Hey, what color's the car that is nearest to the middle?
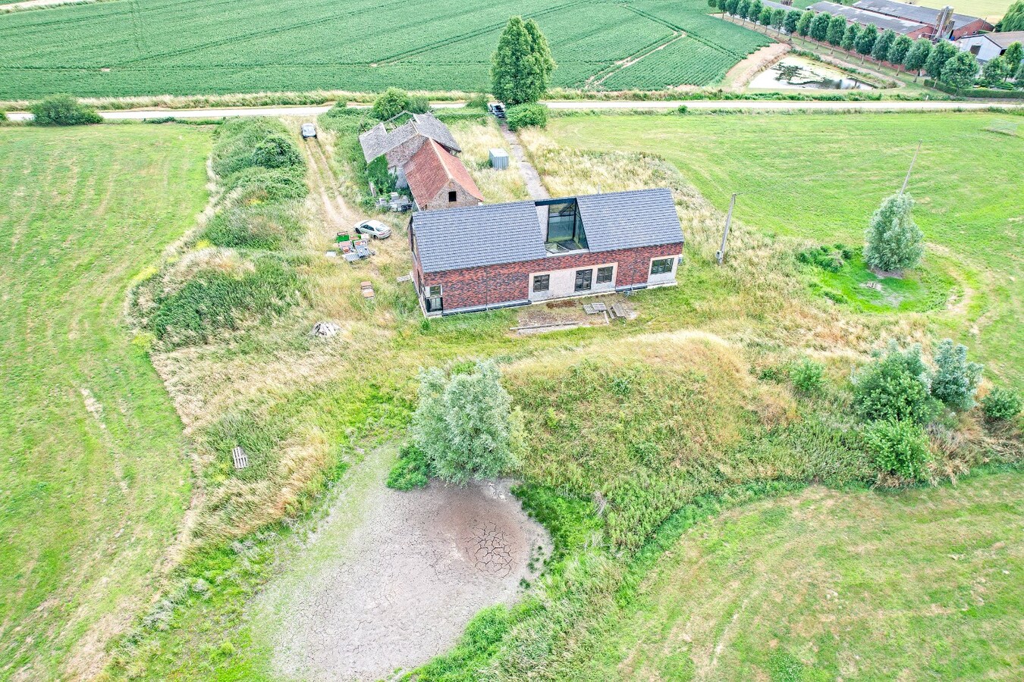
white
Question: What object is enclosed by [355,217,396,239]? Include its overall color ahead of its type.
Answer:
white car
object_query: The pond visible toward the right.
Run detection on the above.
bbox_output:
[750,61,883,91]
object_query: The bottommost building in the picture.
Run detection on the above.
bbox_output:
[413,184,688,317]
